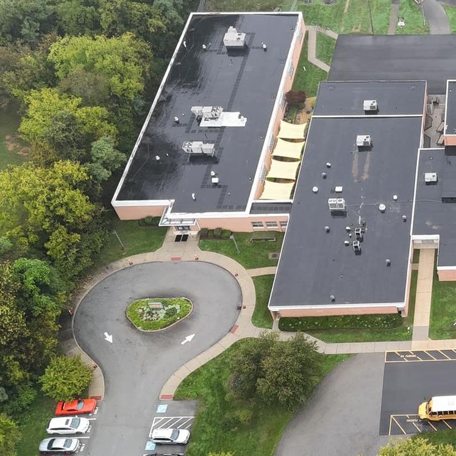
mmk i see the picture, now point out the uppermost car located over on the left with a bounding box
[54,397,98,416]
